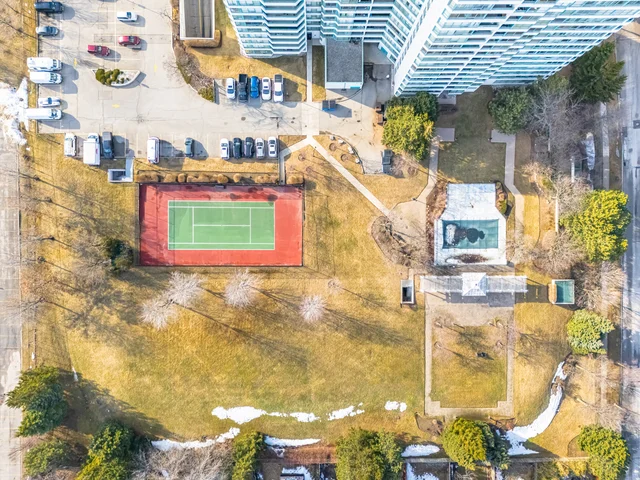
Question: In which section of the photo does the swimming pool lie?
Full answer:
The swimming pool is in the right part of the image.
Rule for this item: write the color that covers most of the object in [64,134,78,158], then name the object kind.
white vehicle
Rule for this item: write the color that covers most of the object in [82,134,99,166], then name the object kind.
white vehicle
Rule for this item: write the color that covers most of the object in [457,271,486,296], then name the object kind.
white gazebo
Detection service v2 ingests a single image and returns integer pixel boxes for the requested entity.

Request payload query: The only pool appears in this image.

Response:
[434,182,509,265]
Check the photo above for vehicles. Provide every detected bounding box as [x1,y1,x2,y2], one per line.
[244,138,254,159]
[220,138,230,161]
[261,78,271,101]
[34,1,65,15]
[148,138,160,164]
[101,132,114,160]
[255,138,265,159]
[82,134,99,166]
[39,96,62,107]
[184,138,194,157]
[232,138,243,159]
[87,45,112,56]
[226,78,236,99]
[26,108,66,121]
[30,72,66,86]
[268,137,277,158]
[238,74,249,102]
[27,59,66,73]
[272,74,284,102]
[37,26,60,37]
[64,134,78,158]
[118,36,141,47]
[249,76,260,99]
